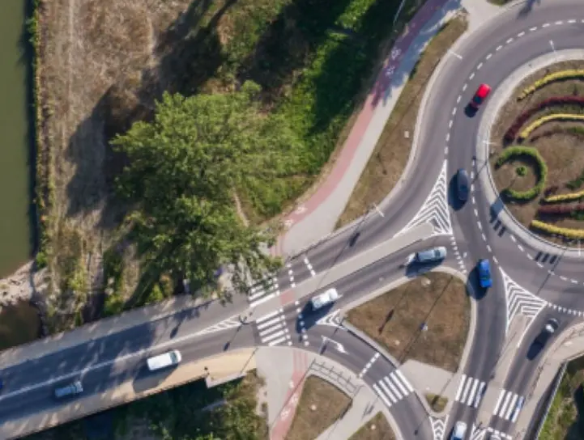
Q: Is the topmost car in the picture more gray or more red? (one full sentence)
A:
The topmost car looks red in the image.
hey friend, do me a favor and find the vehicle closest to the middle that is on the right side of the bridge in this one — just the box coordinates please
[311,288,340,309]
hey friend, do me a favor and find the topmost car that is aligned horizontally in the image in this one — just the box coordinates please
[414,246,447,263]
